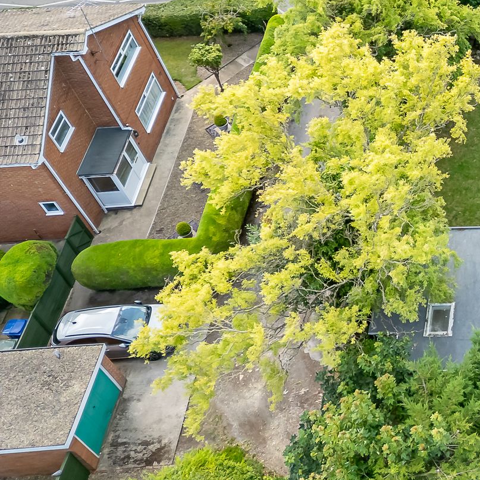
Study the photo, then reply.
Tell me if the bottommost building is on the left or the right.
left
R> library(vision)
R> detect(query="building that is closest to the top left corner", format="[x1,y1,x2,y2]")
[0,0,180,238]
